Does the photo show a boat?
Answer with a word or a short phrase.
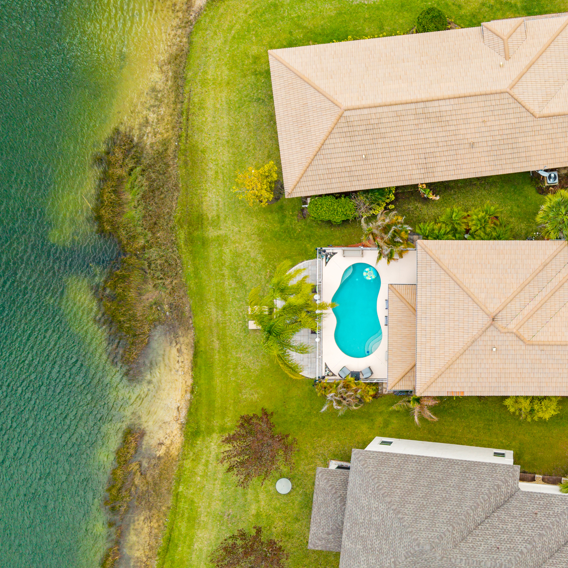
No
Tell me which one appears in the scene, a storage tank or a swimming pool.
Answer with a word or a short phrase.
swimming pool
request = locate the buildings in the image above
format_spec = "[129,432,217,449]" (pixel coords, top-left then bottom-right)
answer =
[386,238,568,398]
[307,438,568,568]
[267,15,568,199]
